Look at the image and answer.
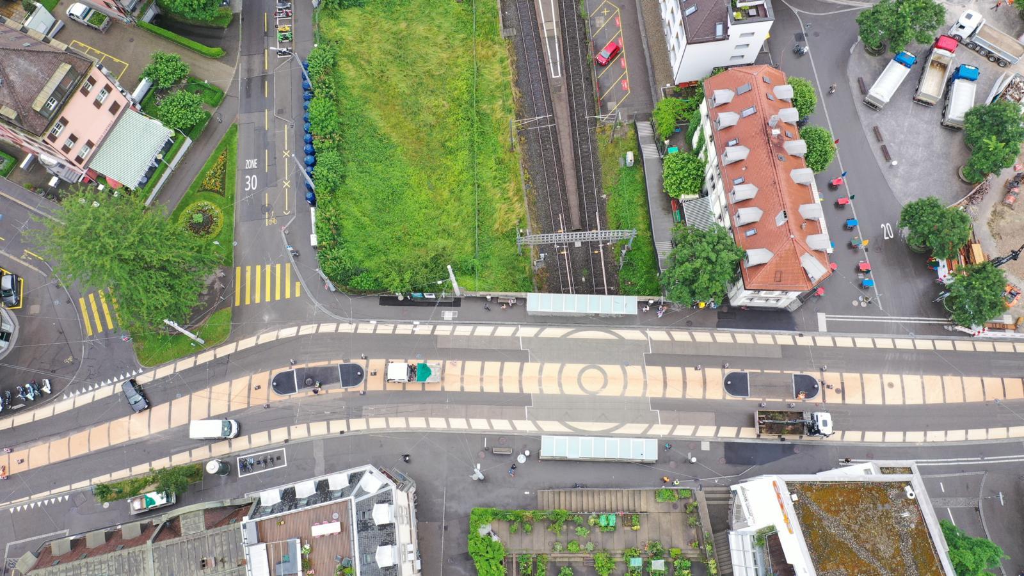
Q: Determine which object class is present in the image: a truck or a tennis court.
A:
truck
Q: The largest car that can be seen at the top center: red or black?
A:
red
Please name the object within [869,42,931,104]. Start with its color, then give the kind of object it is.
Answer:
white truck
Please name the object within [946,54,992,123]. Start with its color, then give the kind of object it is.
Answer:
white truck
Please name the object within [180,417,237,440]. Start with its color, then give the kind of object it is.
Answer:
white vehicle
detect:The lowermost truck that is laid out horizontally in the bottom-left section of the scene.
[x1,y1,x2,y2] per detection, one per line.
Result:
[121,489,176,520]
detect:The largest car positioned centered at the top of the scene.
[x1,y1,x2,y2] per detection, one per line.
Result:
[596,38,623,64]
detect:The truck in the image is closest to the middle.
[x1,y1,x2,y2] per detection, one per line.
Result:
[382,357,439,383]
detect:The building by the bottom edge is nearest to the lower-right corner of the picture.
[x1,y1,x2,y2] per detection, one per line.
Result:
[724,458,957,576]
